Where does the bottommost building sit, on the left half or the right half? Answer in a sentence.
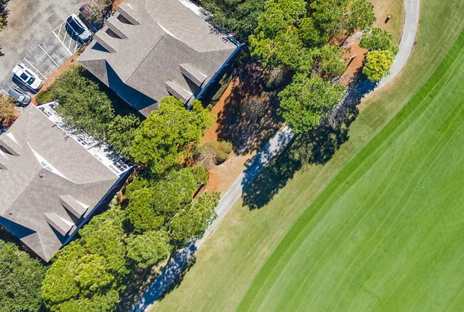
The bottommost building is on the left side of the image.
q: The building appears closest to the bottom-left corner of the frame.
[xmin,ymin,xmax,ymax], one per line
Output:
[0,96,136,263]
